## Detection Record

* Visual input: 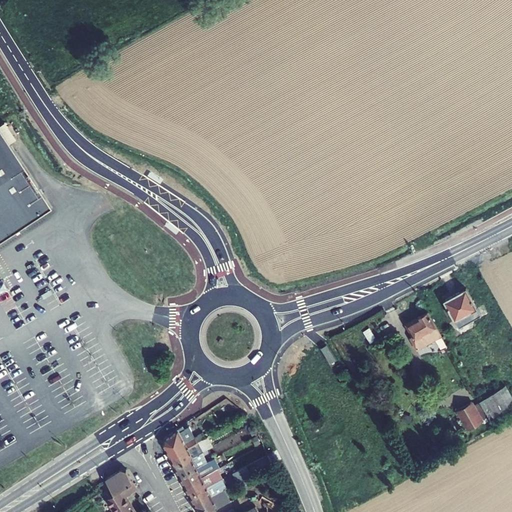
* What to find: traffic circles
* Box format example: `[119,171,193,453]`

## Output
[171,276,283,396]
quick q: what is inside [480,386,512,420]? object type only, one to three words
barn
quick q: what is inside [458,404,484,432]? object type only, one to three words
house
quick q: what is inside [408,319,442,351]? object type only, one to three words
house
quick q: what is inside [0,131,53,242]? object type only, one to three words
building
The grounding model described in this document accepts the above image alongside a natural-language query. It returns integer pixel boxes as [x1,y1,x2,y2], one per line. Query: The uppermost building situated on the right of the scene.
[444,291,478,324]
